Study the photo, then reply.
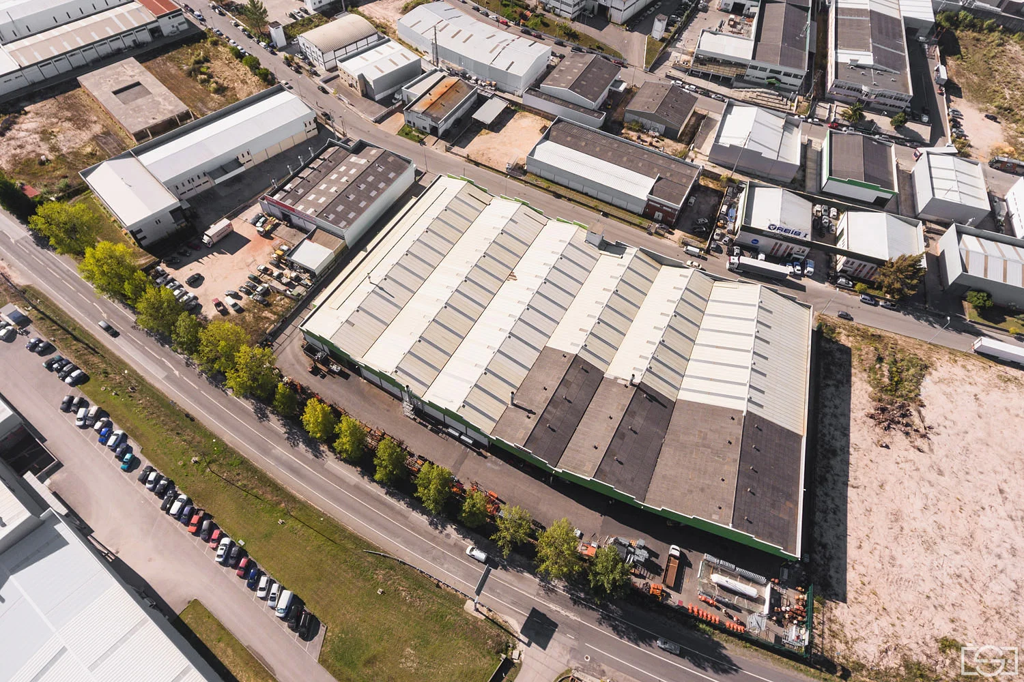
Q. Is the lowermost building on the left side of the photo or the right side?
left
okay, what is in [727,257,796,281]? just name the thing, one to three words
truck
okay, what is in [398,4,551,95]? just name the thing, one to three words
building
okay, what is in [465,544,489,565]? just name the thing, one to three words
vehicle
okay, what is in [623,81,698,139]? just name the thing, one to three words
shed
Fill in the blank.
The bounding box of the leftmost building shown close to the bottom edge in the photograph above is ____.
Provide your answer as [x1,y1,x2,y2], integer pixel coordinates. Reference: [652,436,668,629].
[0,508,224,682]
